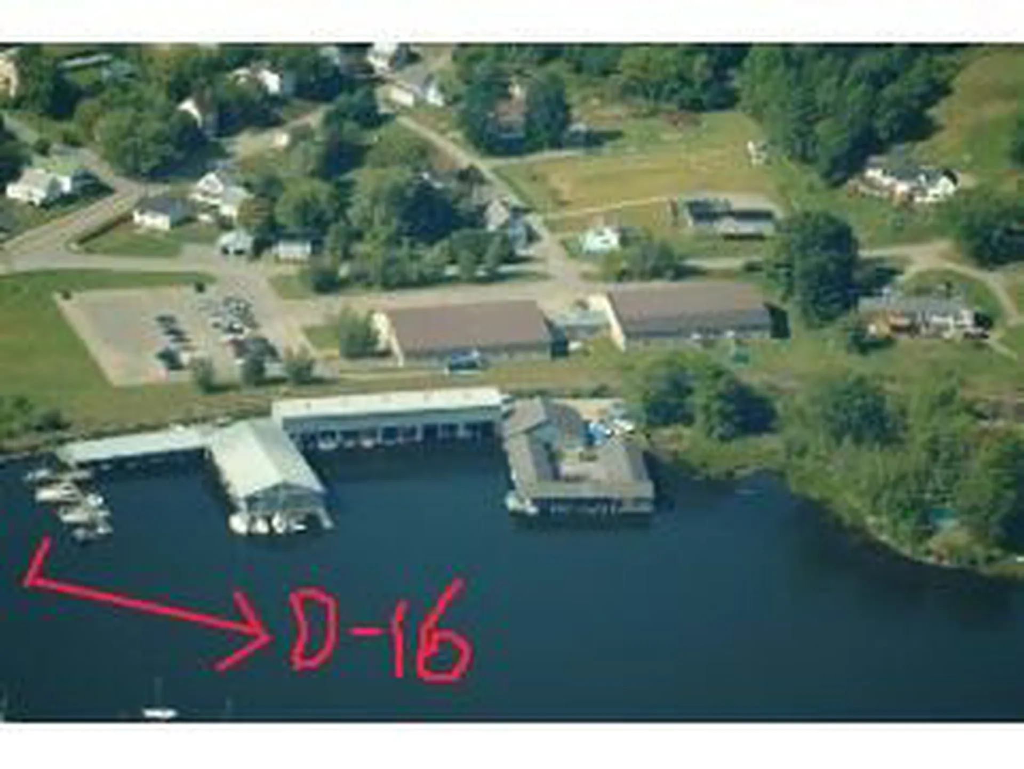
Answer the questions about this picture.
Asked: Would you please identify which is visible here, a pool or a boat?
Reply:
boat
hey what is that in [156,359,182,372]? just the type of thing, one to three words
vehicle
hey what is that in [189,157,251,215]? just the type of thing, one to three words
house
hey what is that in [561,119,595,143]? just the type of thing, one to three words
shed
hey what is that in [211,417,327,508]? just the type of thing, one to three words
building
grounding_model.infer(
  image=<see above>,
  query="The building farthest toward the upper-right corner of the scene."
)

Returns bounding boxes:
[853,153,975,205]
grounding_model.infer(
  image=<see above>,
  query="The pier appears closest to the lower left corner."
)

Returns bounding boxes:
[52,459,113,539]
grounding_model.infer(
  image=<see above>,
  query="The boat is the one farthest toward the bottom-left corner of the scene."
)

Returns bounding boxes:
[141,683,177,718]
